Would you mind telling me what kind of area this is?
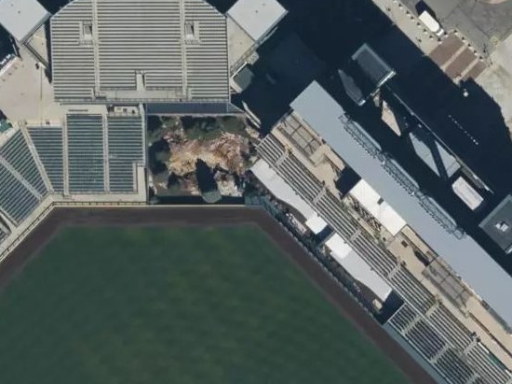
sports ground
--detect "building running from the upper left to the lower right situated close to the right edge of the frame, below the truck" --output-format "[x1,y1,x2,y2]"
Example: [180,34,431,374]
[365,84,497,221]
